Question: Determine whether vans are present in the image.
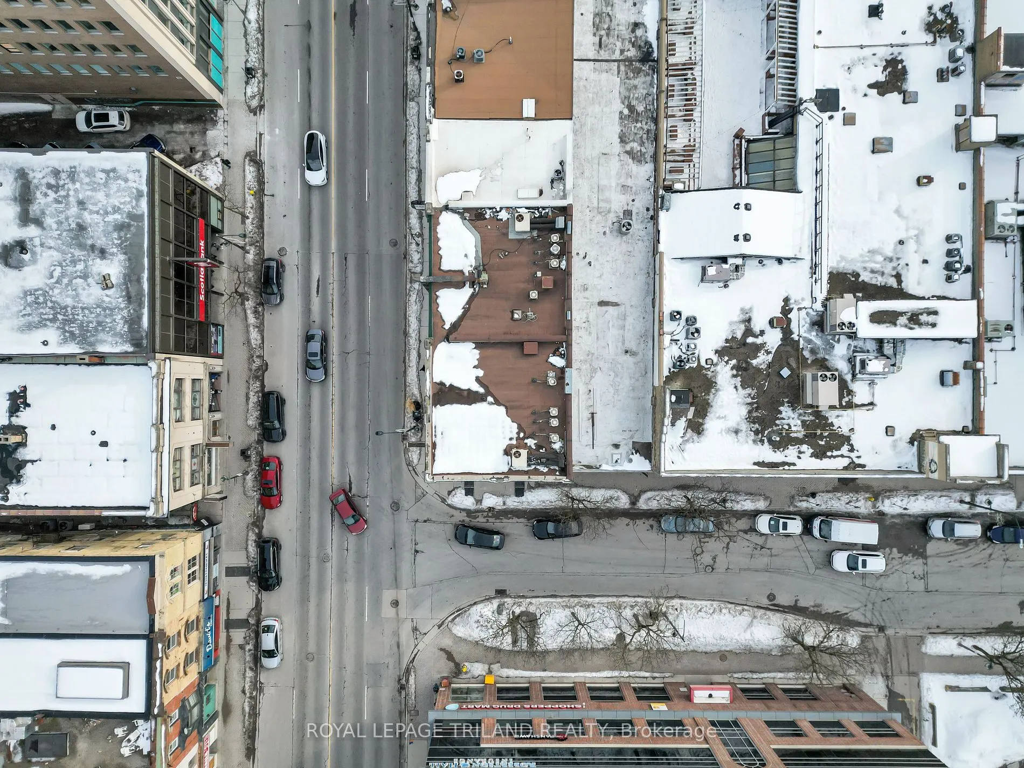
Yes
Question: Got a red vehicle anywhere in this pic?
Yes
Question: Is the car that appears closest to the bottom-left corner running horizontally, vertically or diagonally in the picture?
vertically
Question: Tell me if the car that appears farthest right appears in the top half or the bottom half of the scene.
bottom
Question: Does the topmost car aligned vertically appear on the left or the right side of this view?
left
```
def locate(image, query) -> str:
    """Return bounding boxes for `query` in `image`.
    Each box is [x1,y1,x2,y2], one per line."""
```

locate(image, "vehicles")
[454,523,505,550]
[258,617,284,668]
[754,512,804,538]
[330,485,367,537]
[255,537,283,591]
[660,512,715,536]
[77,107,133,135]
[985,522,1024,547]
[259,391,287,442]
[259,257,286,306]
[124,133,170,155]
[303,330,328,383]
[808,515,882,544]
[924,516,983,542]
[303,131,330,187]
[532,517,583,542]
[258,457,285,509]
[828,548,886,575]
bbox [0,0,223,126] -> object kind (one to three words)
building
